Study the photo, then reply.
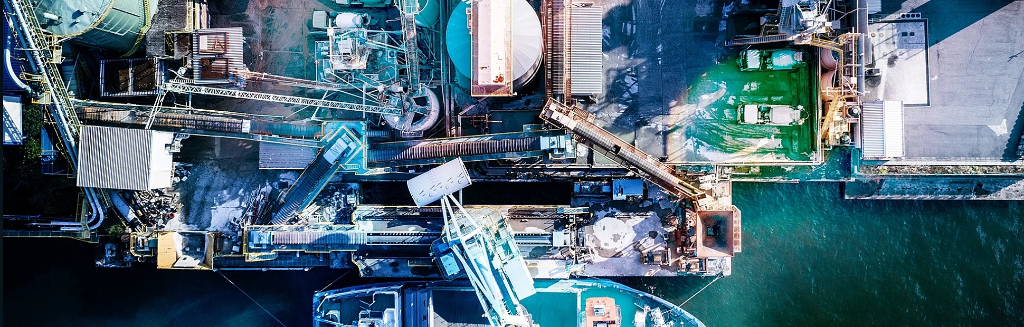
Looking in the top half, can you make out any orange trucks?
No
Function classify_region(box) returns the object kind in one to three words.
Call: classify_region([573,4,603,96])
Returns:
shed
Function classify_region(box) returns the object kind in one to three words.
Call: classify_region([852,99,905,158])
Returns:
shed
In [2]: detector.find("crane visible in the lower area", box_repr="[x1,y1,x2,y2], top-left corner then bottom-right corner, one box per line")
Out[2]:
[407,158,540,327]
